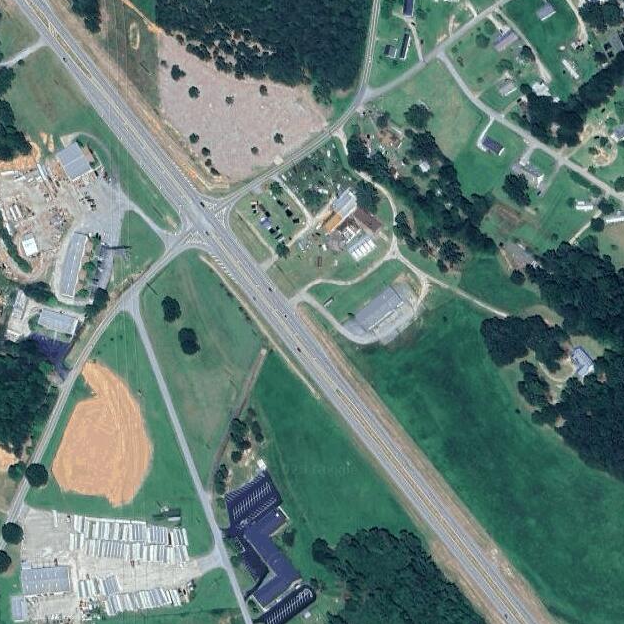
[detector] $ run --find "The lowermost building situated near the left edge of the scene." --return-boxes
[12,596,27,622]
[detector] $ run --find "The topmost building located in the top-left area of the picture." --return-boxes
[59,143,92,181]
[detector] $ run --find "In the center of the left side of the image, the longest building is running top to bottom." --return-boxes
[60,233,89,297]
